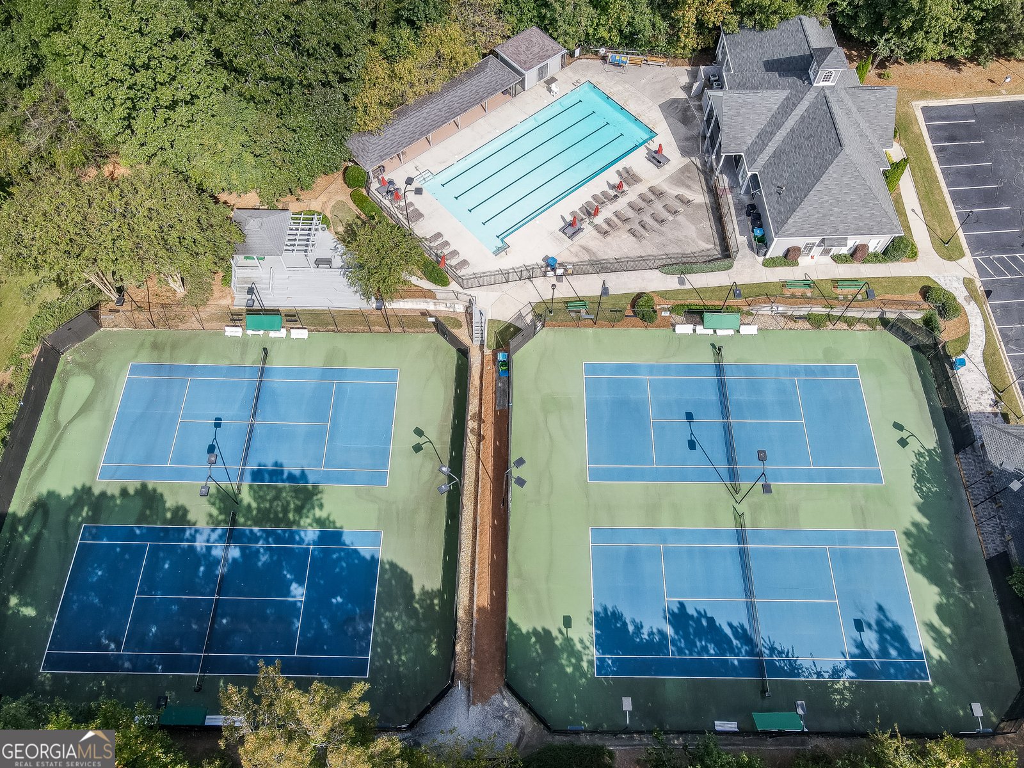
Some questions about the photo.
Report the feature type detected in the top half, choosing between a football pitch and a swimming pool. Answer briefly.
swimming pool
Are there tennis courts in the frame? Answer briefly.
Yes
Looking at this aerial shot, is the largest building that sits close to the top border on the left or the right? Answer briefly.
right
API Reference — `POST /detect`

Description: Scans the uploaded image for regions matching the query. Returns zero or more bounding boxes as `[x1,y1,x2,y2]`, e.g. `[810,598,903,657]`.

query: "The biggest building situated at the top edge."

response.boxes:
[700,22,905,257]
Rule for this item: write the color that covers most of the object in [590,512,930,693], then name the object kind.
blue tennis court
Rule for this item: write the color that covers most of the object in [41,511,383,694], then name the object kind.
blue tennis court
